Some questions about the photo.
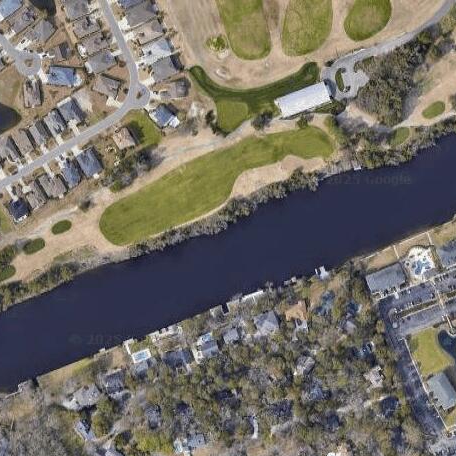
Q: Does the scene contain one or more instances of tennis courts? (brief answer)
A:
No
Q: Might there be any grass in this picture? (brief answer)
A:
Yes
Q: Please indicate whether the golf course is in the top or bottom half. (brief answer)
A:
top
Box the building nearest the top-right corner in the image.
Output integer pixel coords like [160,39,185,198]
[275,81,329,116]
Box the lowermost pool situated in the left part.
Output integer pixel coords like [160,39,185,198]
[132,348,152,363]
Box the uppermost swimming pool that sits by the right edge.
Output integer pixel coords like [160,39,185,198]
[405,245,435,280]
